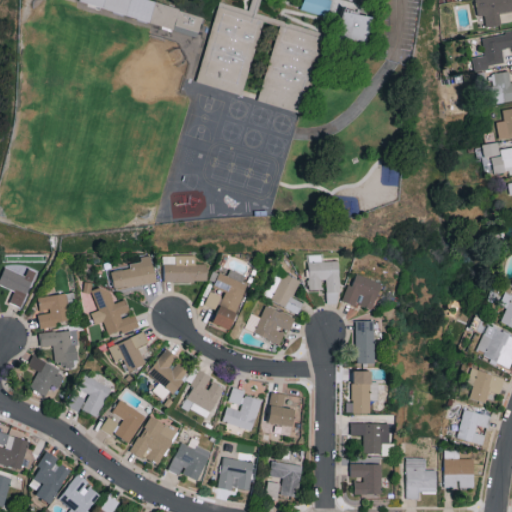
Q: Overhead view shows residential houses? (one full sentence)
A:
Yes, there's a residential house down there.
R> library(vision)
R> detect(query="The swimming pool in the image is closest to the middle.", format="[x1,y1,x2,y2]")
[227,259,249,276]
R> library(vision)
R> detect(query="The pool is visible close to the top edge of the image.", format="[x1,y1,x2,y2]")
[457,8,470,28]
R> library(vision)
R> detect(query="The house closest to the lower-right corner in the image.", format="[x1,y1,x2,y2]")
[444,451,476,489]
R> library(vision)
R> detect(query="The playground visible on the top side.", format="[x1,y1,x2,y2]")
[170,190,206,219]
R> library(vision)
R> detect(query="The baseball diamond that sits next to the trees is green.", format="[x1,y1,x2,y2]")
[0,0,190,234]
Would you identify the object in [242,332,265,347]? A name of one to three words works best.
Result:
swimming pool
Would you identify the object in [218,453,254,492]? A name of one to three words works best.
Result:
house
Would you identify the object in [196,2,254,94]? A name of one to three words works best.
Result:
building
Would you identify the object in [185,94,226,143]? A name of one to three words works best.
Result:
basketball court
